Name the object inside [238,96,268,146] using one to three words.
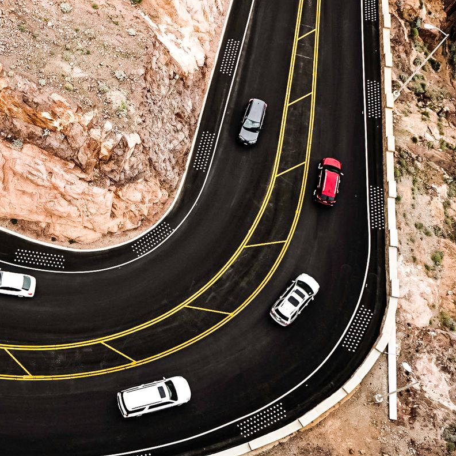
car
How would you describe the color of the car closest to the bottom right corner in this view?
white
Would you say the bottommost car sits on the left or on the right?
left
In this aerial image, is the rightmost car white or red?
red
